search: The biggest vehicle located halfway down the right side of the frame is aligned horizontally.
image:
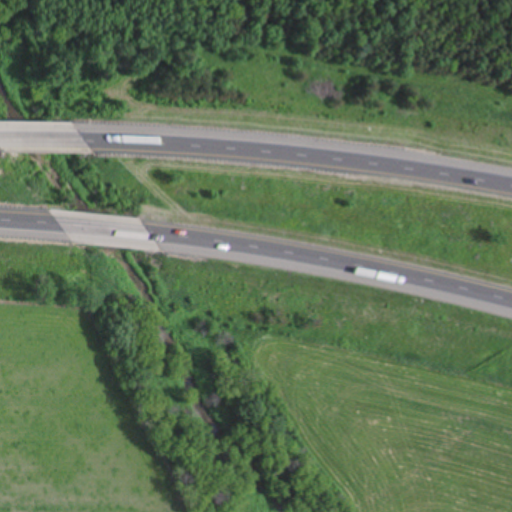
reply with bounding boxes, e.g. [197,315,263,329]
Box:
[355,266,407,285]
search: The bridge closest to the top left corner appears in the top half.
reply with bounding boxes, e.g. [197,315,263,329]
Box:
[0,120,94,156]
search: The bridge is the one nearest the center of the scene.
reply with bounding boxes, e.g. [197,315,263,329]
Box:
[50,209,160,252]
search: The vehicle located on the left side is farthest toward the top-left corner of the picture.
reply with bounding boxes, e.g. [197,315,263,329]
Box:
[106,132,162,144]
